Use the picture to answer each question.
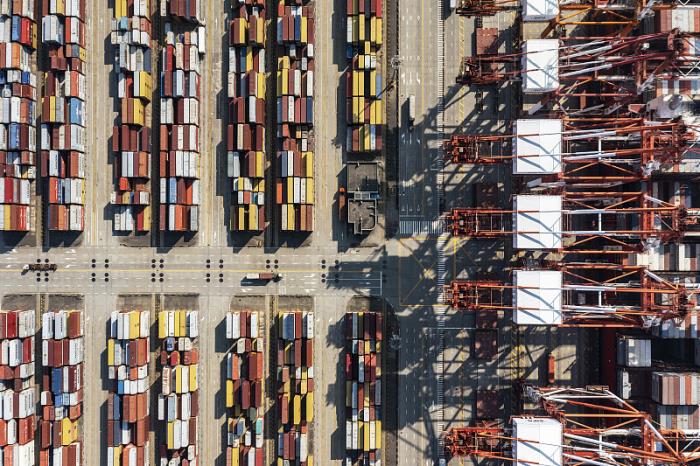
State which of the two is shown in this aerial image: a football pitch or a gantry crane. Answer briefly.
gantry crane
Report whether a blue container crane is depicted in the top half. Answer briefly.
No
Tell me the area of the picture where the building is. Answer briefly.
center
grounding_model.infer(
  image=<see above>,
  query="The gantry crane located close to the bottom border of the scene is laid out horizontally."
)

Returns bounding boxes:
[440,366,700,466]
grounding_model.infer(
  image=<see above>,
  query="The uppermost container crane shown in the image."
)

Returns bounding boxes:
[449,0,700,75]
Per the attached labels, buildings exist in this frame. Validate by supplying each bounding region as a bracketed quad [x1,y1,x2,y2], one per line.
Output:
[347,161,380,234]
